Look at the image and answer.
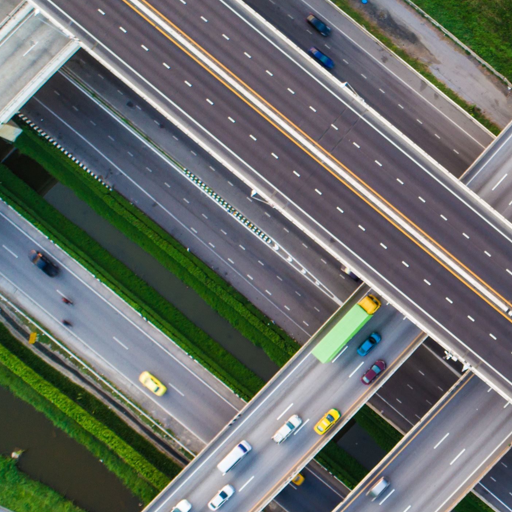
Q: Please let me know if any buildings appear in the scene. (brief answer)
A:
No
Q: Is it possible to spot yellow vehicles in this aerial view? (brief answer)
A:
Yes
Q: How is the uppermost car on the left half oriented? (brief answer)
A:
at an angle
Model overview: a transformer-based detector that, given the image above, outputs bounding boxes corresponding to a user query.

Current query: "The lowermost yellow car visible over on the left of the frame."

[138,370,169,398]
